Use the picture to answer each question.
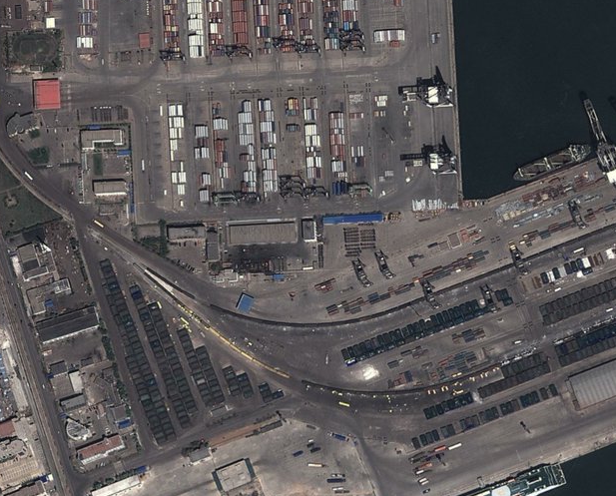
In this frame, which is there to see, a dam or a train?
train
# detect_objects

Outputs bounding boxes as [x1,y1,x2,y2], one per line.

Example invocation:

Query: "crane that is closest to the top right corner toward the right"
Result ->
[584,103,616,188]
